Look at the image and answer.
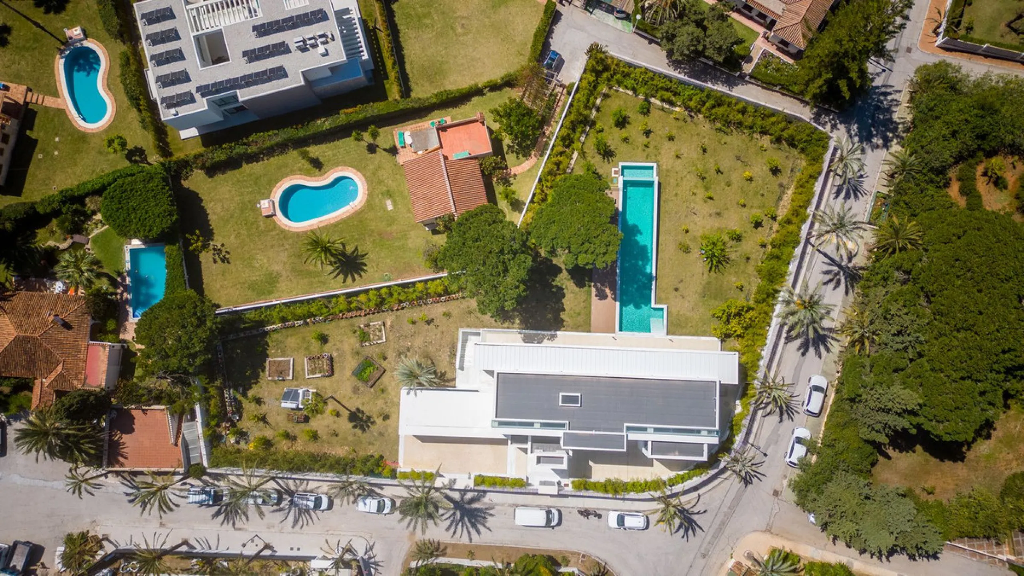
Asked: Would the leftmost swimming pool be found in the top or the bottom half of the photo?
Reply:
top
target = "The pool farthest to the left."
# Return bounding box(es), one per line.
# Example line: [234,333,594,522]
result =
[55,37,117,133]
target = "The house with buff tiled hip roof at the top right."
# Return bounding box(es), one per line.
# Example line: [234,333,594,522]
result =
[711,0,837,75]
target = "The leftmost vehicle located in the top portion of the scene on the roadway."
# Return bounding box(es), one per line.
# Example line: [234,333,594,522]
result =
[540,45,562,77]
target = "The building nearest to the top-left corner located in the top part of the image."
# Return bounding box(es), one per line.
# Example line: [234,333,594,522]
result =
[66,28,87,47]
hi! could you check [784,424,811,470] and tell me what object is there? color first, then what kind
white car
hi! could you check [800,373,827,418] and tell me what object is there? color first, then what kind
white car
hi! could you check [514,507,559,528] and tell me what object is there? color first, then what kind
white vehicle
